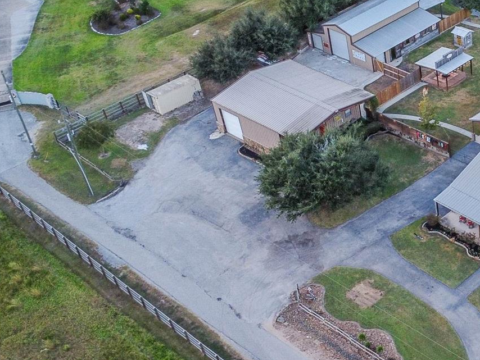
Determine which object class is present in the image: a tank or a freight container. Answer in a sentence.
Of the two, only a freight container appears.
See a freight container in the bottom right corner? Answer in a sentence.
No, looking in the bottom right corner, there is no freight container.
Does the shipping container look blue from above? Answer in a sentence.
No, the color of the shipping container is white.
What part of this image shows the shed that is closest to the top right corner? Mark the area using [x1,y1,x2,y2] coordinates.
[452,26,473,48]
